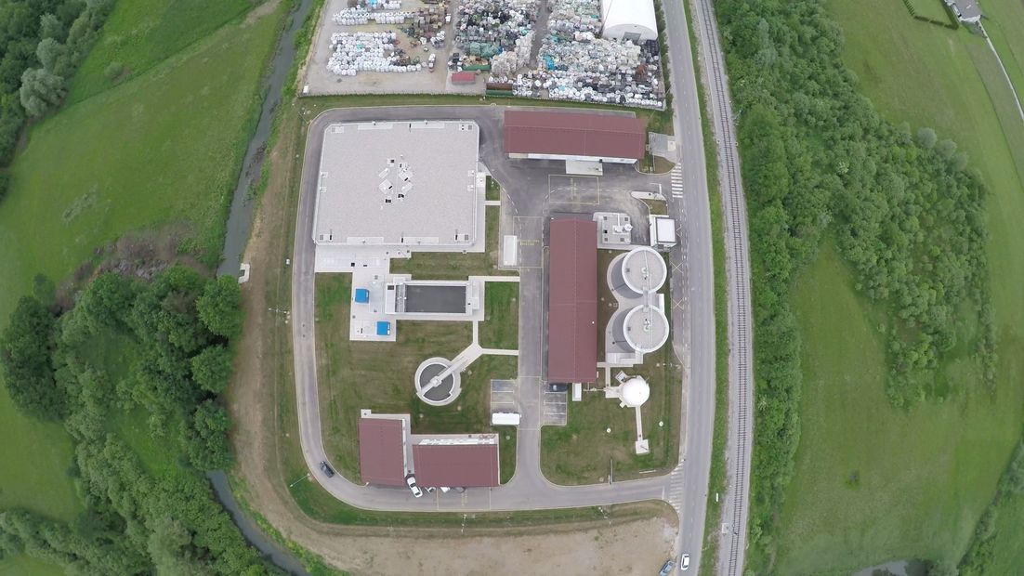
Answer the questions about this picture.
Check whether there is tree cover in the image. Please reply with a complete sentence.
Yes, there's tree cover in this view.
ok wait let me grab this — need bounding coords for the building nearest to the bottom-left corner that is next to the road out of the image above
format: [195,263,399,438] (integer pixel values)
[360,418,407,489]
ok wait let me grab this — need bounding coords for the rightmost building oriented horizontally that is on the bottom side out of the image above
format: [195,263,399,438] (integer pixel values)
[605,352,643,365]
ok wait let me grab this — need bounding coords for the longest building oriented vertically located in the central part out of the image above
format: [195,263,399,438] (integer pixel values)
[548,218,597,382]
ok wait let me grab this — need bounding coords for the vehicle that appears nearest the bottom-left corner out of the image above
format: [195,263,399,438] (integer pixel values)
[317,460,335,481]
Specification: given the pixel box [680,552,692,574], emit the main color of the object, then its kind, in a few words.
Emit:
white vehicle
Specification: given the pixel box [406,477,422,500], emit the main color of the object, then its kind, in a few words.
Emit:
white car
